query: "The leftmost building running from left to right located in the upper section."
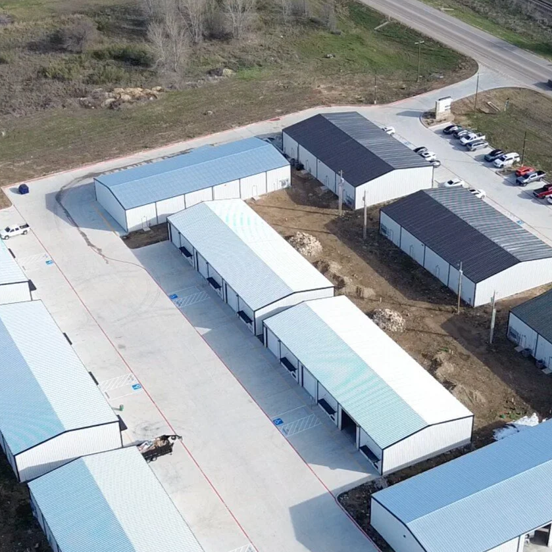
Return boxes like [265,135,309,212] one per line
[93,136,291,232]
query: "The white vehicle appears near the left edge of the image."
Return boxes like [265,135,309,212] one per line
[0,223,31,240]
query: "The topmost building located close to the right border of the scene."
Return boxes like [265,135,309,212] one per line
[379,186,552,307]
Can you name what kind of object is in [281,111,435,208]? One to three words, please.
building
